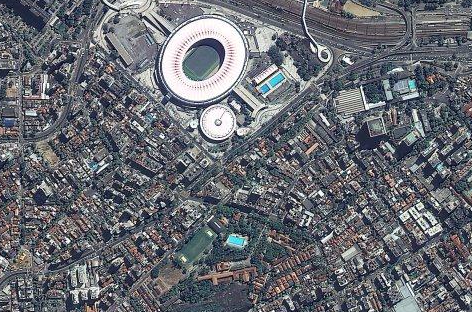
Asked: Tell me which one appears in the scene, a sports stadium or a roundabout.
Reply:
sports stadium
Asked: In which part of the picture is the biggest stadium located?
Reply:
top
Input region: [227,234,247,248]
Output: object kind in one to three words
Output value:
swimming pool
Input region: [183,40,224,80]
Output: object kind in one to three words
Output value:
sports field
